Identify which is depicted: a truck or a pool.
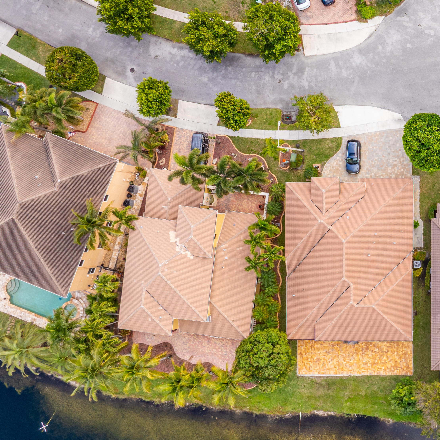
pool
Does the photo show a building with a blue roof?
No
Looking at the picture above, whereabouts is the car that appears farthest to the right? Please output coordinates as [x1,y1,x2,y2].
[344,140,362,174]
